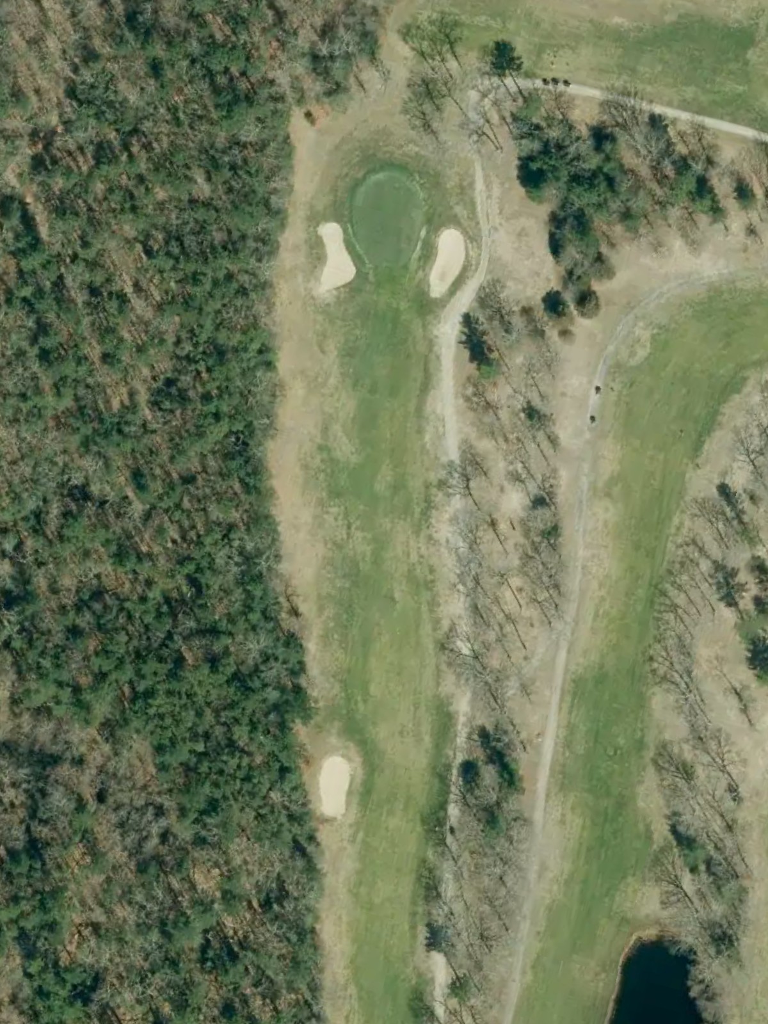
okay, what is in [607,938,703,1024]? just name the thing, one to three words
pond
